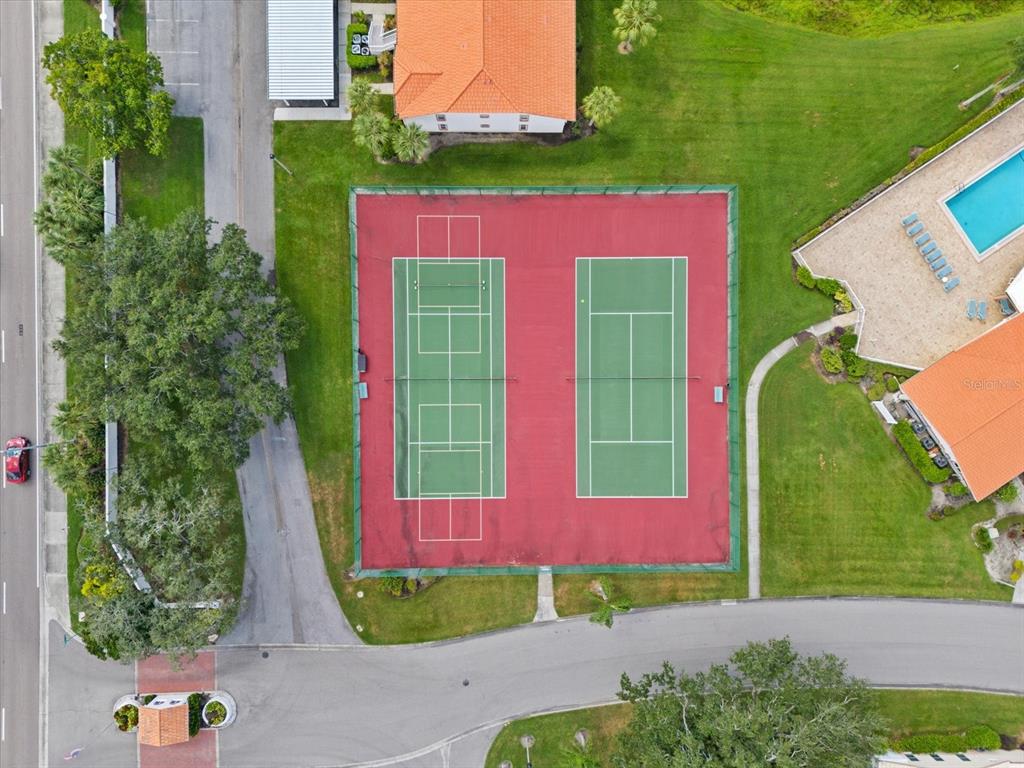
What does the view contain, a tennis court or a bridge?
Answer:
tennis court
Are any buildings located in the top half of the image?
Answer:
Yes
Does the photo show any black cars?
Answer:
No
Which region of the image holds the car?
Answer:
left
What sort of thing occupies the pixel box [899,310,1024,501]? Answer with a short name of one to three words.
building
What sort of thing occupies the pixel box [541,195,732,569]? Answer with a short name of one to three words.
tennis court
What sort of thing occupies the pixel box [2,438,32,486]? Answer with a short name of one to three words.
car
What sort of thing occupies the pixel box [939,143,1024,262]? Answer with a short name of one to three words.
swimming pool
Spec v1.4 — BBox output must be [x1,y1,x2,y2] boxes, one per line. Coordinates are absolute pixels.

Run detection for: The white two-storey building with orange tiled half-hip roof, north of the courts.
[391,0,577,132]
